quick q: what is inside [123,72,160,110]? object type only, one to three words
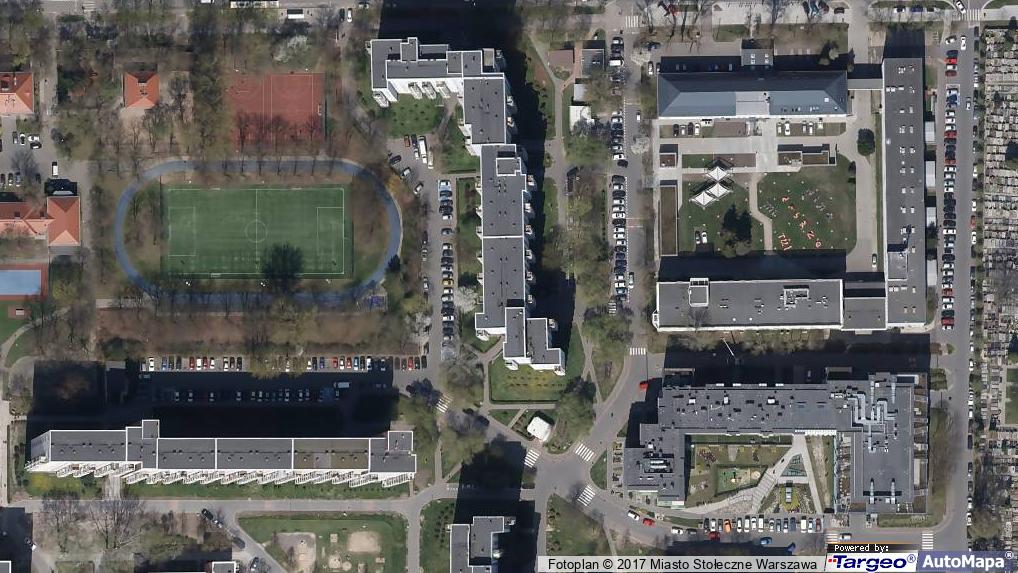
house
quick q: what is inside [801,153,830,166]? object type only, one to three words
building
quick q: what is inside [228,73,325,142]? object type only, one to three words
sports court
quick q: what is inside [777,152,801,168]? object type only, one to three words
building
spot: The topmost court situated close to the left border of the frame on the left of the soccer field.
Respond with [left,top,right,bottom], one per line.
[0,263,48,300]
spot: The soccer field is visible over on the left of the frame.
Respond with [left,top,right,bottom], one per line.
[161,184,353,278]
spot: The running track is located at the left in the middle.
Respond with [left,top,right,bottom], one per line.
[113,158,404,306]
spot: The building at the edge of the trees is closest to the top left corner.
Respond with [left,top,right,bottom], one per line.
[0,72,34,115]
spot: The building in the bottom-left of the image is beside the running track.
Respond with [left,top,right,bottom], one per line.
[26,419,417,489]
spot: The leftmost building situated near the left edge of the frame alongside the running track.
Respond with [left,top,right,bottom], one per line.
[0,191,82,256]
